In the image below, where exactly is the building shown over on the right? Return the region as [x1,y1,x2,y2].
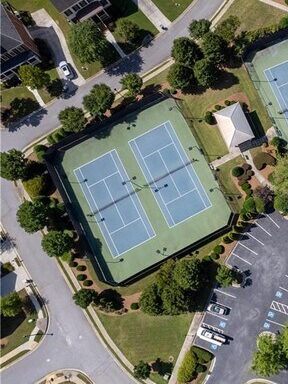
[213,102,255,152]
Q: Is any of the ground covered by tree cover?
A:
Yes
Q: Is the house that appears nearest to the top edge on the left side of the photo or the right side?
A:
left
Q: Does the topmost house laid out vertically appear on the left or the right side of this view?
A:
left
